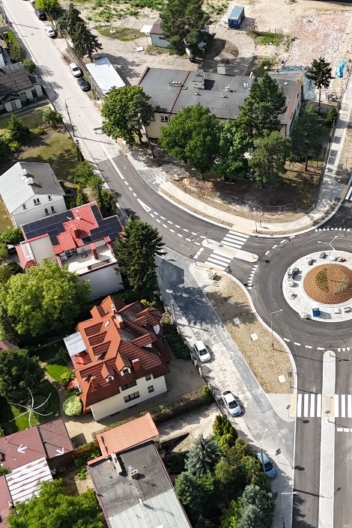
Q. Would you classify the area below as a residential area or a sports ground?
residential area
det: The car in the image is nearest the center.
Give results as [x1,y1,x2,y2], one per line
[193,340,213,364]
